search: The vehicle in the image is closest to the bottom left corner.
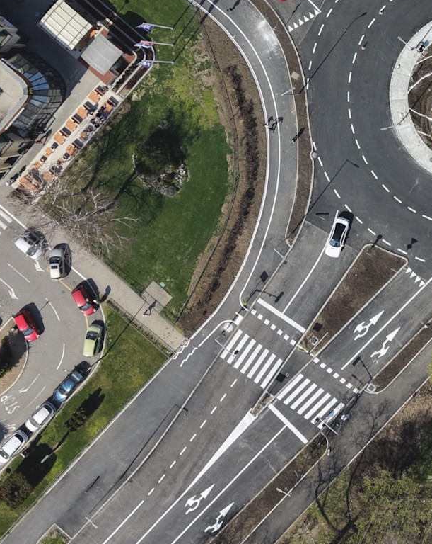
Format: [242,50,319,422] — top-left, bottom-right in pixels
[0,426,31,463]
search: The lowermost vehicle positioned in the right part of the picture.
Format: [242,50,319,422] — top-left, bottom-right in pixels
[326,215,351,258]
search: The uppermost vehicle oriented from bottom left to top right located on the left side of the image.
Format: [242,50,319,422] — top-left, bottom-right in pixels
[51,367,89,406]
